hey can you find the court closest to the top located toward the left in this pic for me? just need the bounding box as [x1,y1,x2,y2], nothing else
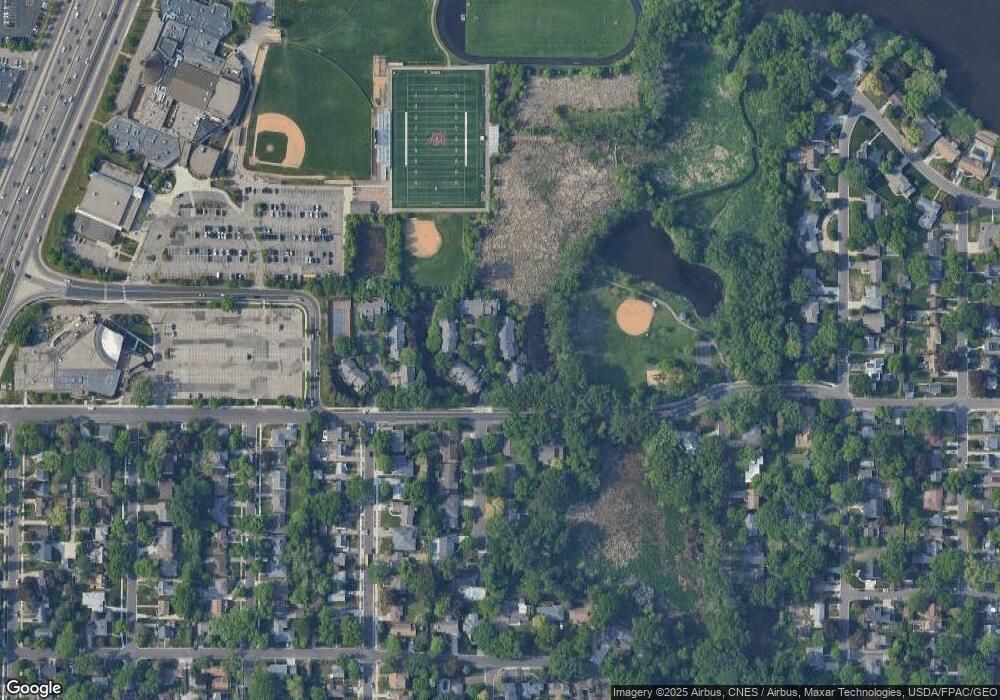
[329,300,351,341]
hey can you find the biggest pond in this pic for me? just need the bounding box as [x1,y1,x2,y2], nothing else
[600,208,723,318]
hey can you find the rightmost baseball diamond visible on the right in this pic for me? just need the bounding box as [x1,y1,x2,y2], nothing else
[616,299,654,336]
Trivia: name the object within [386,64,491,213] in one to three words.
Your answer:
sports field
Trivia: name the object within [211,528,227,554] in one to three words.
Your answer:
house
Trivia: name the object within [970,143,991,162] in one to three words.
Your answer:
swimming pool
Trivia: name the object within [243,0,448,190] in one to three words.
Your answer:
baseball field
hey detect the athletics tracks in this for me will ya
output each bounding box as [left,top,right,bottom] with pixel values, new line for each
[437,0,643,65]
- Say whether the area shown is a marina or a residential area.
residential area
